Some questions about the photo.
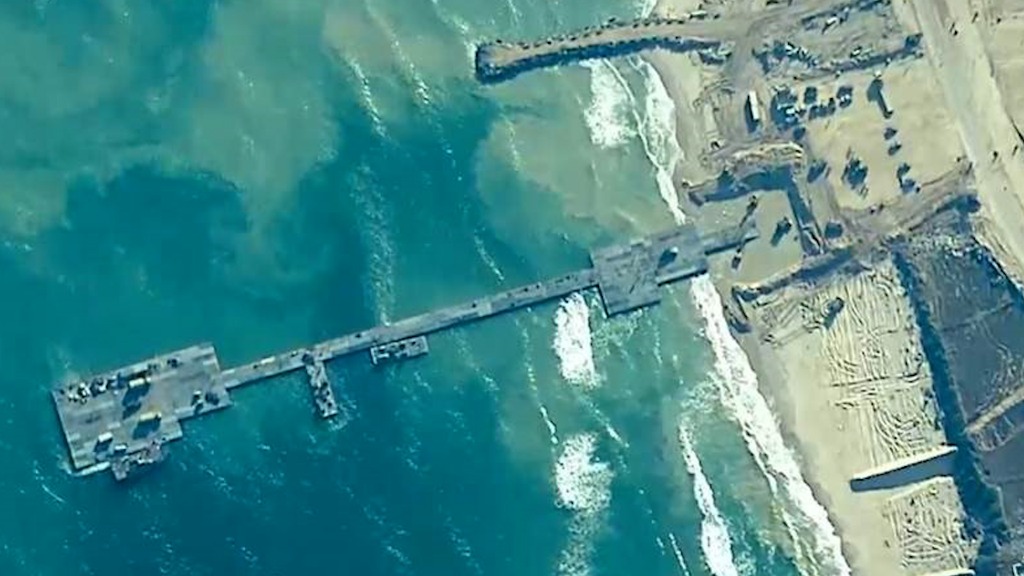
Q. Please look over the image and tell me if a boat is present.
Yes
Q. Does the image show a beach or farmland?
beach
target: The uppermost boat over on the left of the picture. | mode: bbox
[371,336,429,364]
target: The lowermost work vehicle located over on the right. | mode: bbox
[828,291,847,318]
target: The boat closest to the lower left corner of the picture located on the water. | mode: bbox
[109,457,129,483]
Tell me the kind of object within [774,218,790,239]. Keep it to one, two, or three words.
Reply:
vehicle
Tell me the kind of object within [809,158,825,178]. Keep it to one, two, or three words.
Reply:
vehicle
